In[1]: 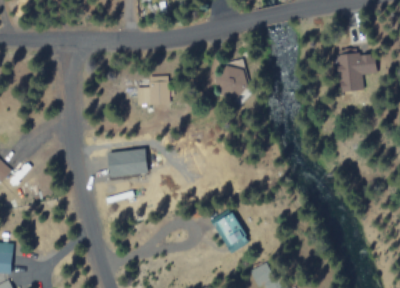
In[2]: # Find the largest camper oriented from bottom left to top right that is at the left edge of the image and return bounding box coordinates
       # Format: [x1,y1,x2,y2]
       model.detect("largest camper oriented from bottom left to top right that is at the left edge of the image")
[10,164,31,184]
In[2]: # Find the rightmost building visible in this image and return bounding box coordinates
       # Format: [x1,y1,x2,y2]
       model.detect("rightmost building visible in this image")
[338,54,378,92]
